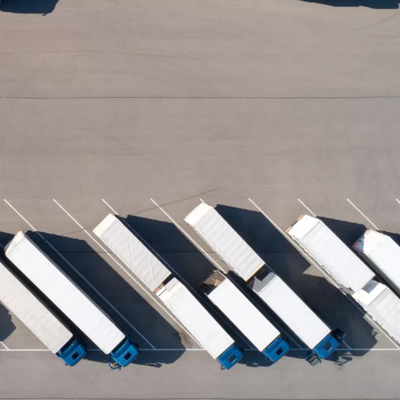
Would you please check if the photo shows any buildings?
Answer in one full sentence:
No, no building is visible in the view.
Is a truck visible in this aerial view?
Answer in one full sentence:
Yes, this view includes a truck.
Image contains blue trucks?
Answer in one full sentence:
Yes, I can see a blue truck in this picture.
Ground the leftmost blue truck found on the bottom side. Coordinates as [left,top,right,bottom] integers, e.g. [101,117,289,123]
[54,323,89,366]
